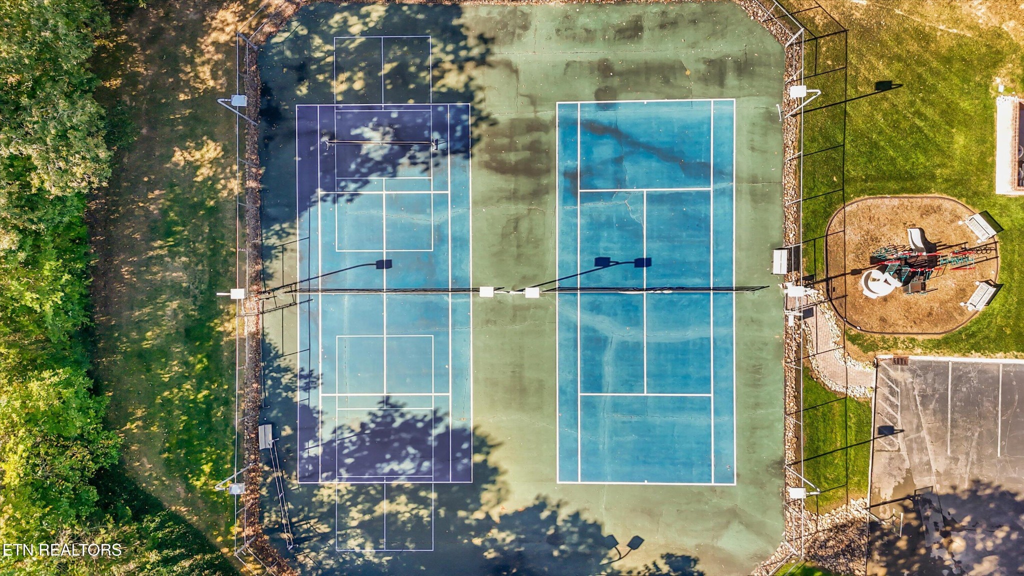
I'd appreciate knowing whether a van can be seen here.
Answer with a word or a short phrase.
No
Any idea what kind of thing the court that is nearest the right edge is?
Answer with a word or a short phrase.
tennis court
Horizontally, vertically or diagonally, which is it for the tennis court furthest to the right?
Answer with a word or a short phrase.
vertically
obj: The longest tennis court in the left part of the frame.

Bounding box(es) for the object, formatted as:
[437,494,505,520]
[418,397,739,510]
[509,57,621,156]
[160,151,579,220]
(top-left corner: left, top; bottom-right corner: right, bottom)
[297,103,473,483]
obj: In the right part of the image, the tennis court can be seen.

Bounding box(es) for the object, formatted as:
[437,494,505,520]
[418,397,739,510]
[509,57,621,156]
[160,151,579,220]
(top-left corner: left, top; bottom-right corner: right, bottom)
[556,99,737,486]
